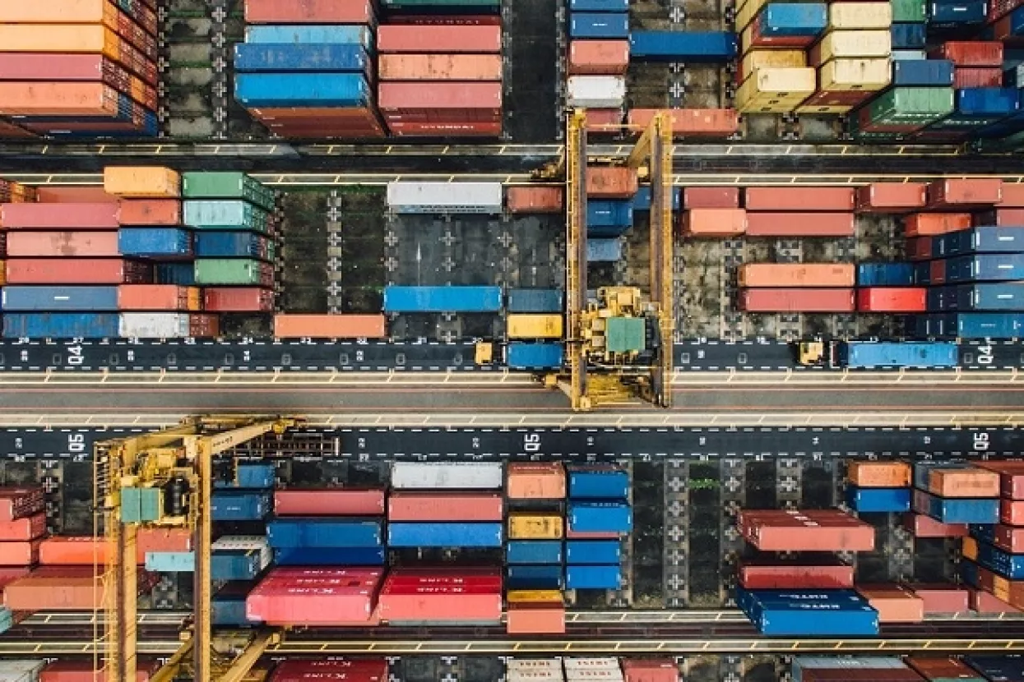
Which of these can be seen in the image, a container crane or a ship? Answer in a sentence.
This aerial view contains a container crane.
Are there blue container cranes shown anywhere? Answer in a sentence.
No, I can't see a single blue container crane in this photo.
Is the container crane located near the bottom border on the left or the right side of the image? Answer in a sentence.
The container crane located near the bottom border is on the left side of the image.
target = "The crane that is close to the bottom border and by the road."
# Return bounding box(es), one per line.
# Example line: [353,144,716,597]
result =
[85,412,314,682]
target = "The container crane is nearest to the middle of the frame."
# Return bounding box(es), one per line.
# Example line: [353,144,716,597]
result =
[523,112,675,404]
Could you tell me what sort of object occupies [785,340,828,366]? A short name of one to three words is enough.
truck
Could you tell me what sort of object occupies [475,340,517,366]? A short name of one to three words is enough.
truck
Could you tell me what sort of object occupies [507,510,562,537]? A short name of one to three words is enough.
shipping container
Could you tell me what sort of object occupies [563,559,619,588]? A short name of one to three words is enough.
shipping container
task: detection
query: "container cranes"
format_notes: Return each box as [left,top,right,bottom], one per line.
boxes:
[85,412,314,682]
[523,112,675,404]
